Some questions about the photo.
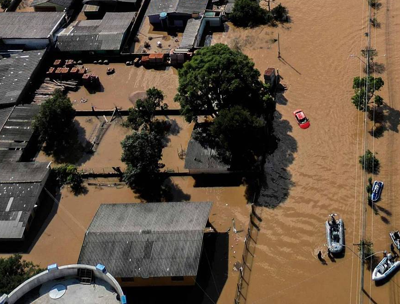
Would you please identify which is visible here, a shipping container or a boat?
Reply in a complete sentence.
The image shows a boat.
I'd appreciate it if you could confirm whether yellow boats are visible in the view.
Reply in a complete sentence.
No, I find no yellow boat anywhere in the image.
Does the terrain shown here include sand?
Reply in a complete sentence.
No, the scene doesn't show any sand.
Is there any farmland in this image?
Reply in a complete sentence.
No, the picture contains no farmland.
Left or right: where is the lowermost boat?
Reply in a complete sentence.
The lowermost boat is on the right side of the image.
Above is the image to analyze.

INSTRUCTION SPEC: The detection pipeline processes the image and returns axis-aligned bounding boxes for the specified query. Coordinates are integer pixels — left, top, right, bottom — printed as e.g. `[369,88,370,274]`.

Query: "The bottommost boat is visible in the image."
[371,250,400,281]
